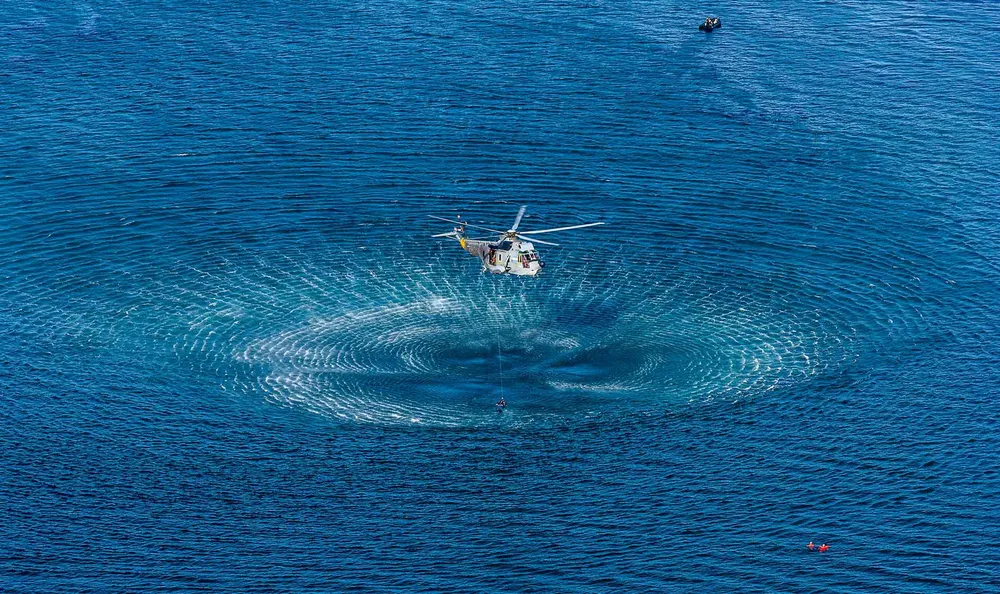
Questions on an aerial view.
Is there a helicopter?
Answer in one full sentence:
Yes, this view includes a helicopter.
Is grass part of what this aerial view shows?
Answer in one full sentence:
No, no grass is visible.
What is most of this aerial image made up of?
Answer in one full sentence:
The scene is dominated by water.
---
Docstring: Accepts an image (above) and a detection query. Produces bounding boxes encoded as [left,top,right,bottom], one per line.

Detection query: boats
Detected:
[699,19,722,31]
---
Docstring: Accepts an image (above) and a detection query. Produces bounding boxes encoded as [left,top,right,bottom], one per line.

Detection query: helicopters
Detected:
[429,204,604,398]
